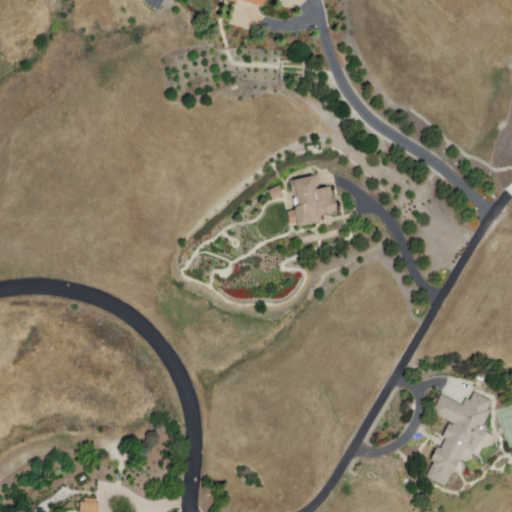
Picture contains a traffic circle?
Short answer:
No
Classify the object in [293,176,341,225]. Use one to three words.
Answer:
house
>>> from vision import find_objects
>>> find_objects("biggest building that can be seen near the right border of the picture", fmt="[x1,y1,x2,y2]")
[428,392,498,488]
